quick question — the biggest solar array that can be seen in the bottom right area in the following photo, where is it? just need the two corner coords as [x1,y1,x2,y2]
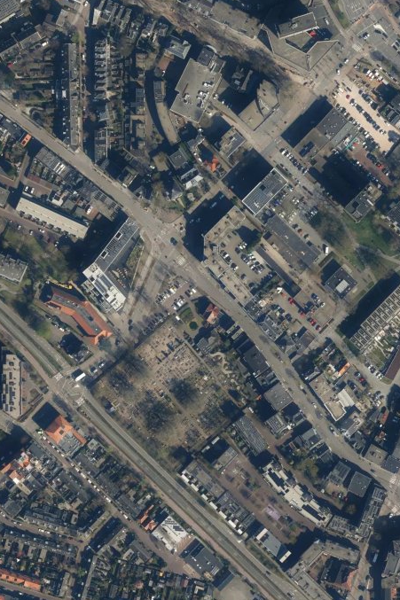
[269,464,328,526]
